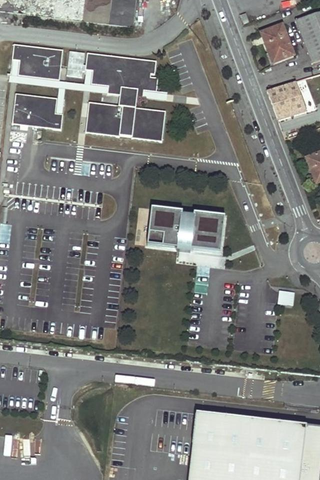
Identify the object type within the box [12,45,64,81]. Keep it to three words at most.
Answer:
building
